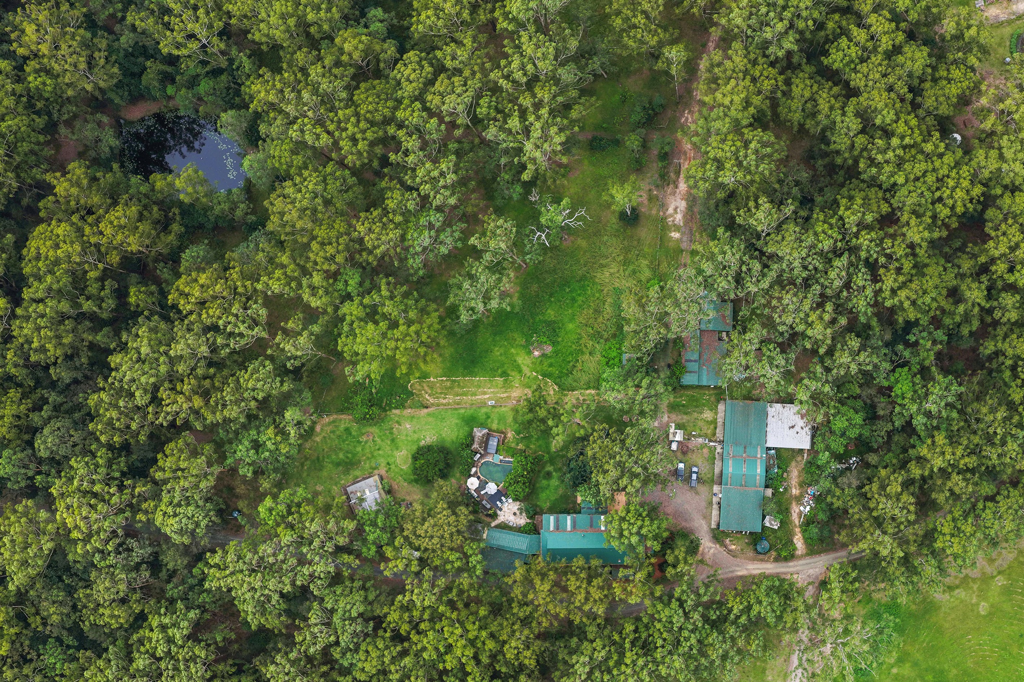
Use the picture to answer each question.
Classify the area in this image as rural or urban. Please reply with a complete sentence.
The land in this view is best described as rural.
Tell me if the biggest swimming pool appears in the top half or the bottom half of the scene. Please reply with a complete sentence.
The bottom half of the photo is where the biggest swimming pool is.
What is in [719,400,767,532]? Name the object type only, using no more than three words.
shed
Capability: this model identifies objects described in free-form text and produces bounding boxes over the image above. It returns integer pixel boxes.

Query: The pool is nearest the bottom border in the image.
[477,459,517,486]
